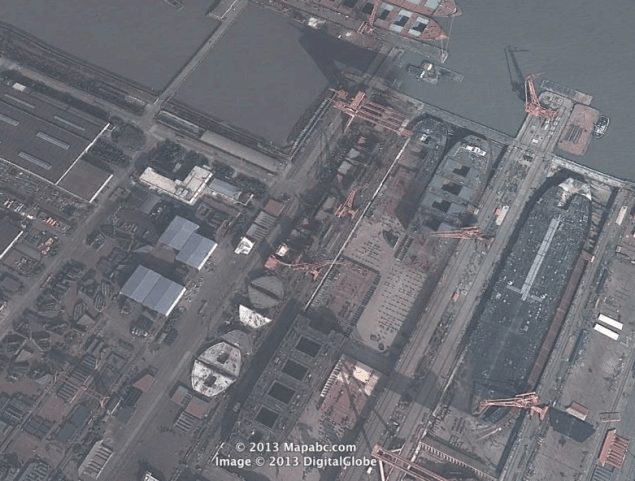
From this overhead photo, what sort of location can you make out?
port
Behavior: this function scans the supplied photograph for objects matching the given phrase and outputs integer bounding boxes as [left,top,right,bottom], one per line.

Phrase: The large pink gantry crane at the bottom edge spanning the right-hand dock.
[368,441,456,481]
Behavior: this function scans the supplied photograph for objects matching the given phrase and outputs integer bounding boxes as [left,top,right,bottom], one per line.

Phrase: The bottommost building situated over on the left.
[119,263,191,319]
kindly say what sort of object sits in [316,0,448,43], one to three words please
ship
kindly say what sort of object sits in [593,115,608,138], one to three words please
boat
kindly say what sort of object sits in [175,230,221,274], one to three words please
building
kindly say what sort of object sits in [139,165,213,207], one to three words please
building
